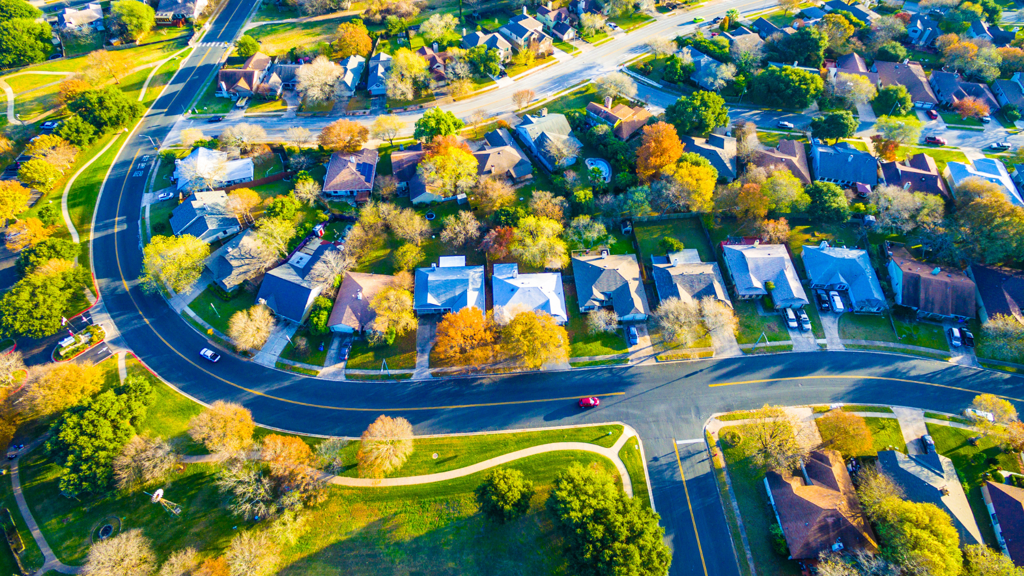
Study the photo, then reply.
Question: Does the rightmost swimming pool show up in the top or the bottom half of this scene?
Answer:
top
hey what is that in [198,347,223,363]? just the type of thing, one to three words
vehicle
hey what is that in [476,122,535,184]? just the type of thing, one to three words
house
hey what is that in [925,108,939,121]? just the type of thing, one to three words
vehicle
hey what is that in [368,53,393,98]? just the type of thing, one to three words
house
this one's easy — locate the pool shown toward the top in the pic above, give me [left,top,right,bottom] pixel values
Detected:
[586,157,612,183]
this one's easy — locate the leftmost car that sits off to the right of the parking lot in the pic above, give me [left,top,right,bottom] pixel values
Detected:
[156,190,177,202]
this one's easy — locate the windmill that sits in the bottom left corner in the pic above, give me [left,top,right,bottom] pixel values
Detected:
[149,484,186,520]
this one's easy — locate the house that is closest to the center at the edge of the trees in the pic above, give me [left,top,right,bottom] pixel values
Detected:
[492,263,568,328]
